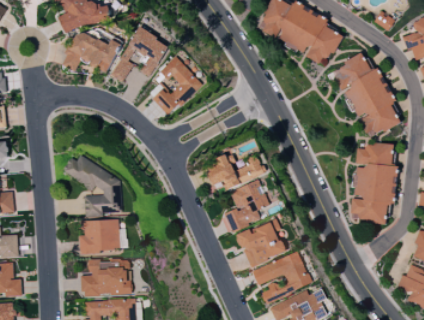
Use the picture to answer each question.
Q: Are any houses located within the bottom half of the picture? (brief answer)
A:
Yes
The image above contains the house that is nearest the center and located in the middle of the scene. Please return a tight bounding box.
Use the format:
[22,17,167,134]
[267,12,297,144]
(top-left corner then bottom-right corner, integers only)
[207,152,268,190]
